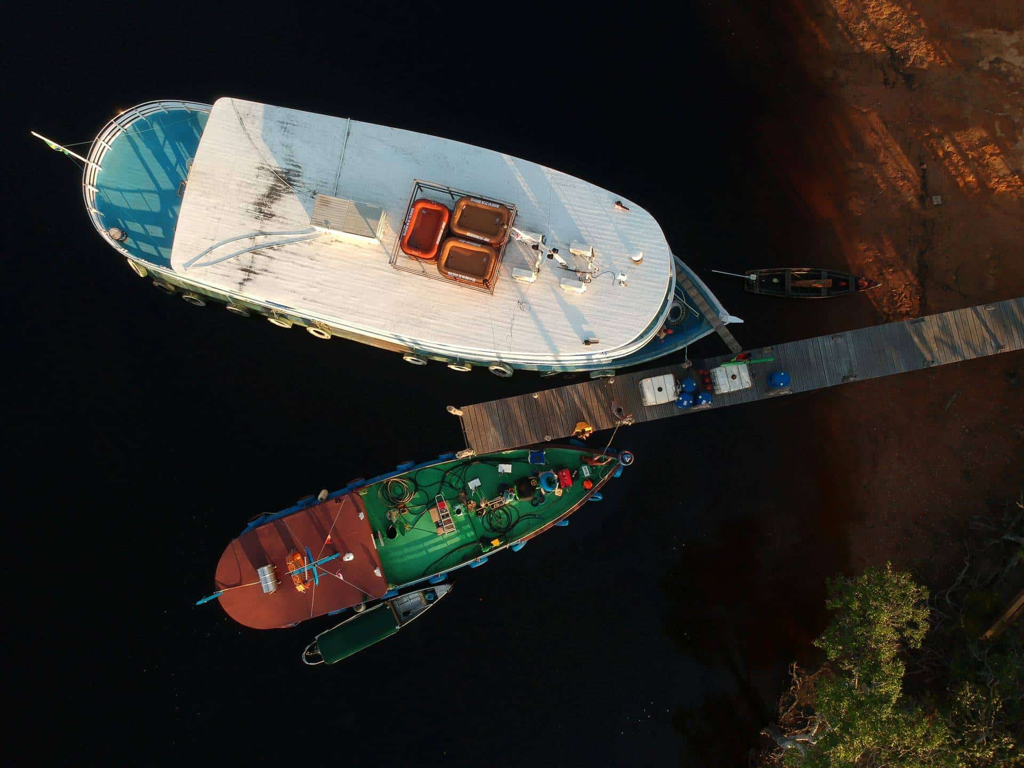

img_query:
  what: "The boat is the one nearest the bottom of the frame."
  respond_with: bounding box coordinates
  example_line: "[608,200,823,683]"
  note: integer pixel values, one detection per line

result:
[302,581,457,669]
